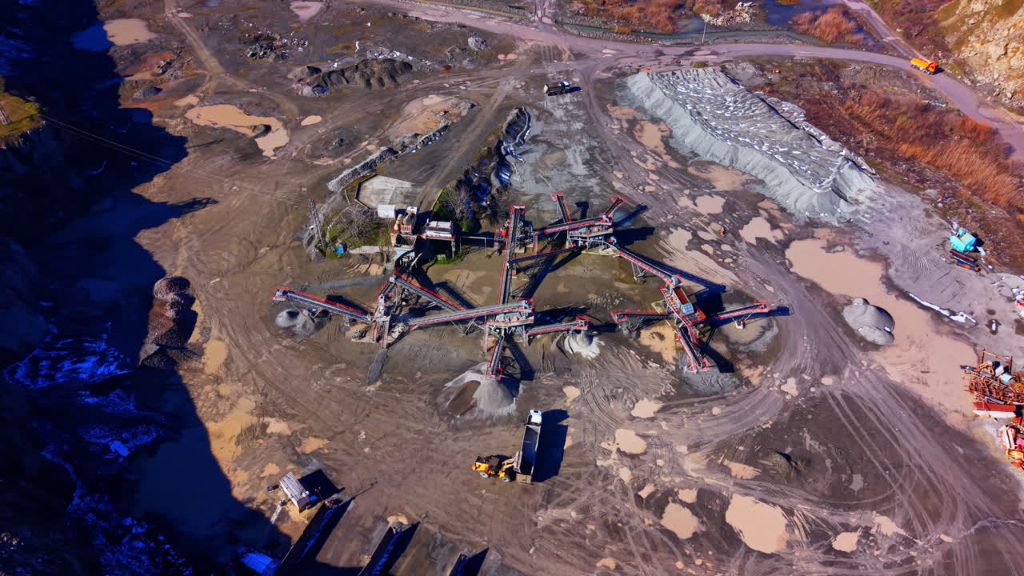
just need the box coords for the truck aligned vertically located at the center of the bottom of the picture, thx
[515,411,543,482]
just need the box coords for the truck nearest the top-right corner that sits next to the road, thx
[911,56,940,77]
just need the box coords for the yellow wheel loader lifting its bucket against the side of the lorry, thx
[470,456,524,483]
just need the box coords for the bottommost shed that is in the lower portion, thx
[238,544,281,576]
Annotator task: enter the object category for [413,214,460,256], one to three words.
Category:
building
